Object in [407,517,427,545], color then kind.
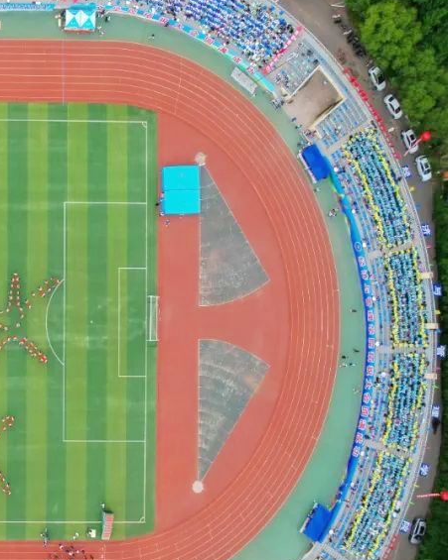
gray car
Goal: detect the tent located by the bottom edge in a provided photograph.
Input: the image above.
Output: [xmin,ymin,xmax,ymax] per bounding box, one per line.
[297,501,332,540]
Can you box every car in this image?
[366,65,387,92]
[407,517,427,545]
[380,92,403,119]
[412,154,431,181]
[399,127,419,154]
